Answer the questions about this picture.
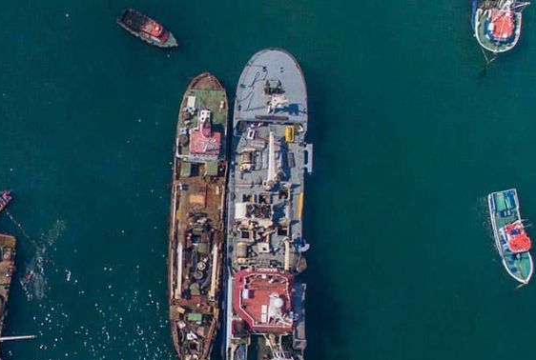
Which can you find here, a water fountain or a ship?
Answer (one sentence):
It is a ship that can be seen here.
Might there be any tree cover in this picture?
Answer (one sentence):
No, the picture contains no tree cover.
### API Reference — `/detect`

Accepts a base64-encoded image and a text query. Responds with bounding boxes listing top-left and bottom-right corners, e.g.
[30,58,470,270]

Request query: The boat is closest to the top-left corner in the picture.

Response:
[117,9,178,49]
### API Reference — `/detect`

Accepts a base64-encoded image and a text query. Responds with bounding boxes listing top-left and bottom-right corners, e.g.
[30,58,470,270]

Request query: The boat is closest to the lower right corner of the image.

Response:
[489,191,533,291]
